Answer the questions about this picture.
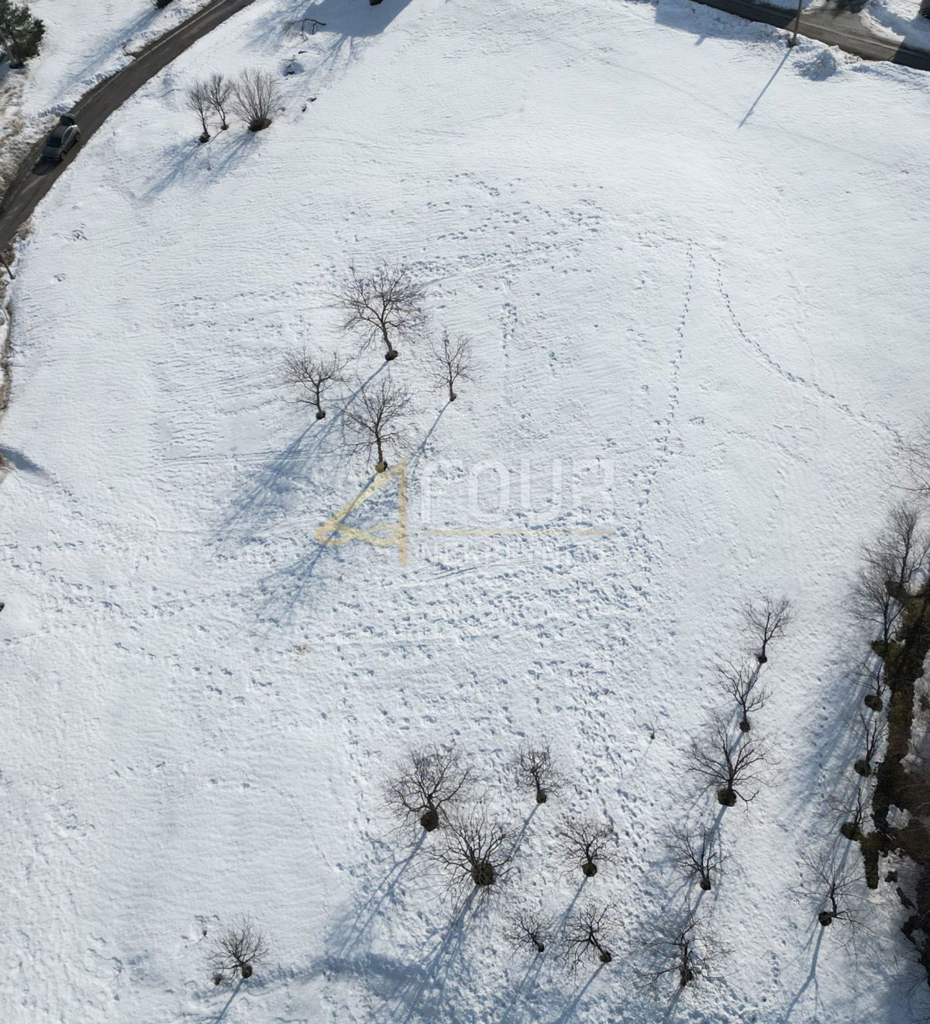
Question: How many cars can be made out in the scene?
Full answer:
Just 1 car appears in this view.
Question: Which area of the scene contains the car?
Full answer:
The car appears toward the top left of the photo.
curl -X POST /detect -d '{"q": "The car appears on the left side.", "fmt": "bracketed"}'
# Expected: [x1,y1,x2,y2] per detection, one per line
[38,112,80,158]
